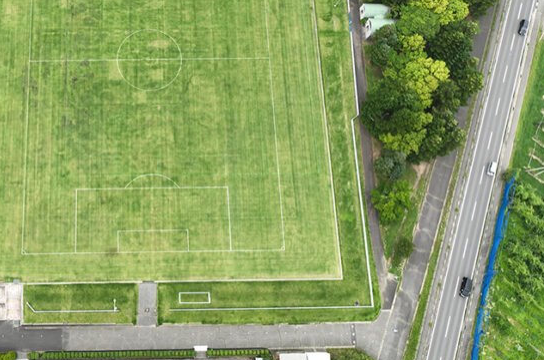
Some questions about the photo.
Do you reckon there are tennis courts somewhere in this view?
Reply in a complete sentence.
No, there appears to be no tennis court in this shot.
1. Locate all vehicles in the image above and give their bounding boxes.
[486,161,497,175]
[517,19,528,35]
[458,278,472,298]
